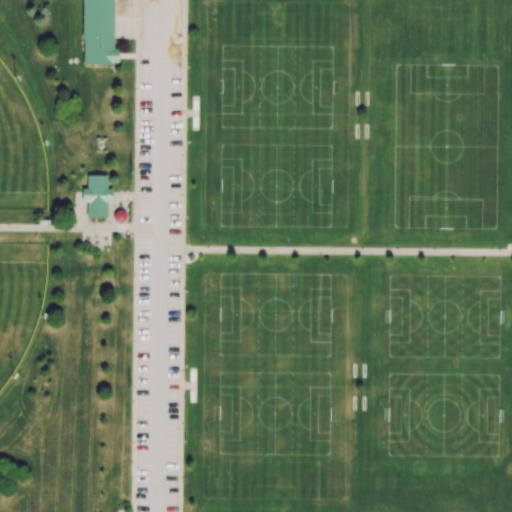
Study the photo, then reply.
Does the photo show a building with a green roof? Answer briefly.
Yes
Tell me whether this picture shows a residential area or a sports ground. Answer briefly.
sports ground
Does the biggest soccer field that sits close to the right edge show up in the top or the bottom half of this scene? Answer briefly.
top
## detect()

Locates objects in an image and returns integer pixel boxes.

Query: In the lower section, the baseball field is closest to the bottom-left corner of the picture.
[0,244,48,390]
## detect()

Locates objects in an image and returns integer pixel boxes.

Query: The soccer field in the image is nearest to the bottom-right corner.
[389,374,500,457]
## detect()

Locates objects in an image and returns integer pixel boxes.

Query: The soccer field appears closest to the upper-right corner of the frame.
[395,65,499,230]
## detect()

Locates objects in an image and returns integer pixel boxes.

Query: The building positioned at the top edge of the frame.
[84,0,120,65]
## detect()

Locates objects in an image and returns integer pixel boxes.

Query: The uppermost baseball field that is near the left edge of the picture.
[0,58,48,209]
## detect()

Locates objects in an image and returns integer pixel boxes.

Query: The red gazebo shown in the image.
[114,210,128,222]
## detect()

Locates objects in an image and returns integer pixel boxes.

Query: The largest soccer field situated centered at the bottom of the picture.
[204,274,348,500]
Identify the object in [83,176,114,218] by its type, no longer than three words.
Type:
building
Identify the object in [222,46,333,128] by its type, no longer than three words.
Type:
soccer field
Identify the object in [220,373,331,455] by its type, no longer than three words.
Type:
soccer field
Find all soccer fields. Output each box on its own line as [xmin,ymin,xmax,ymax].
[222,46,333,128]
[220,373,331,455]
[221,145,332,227]
[206,2,349,228]
[204,274,348,500]
[390,276,502,358]
[220,274,332,356]
[395,65,499,230]
[389,374,500,457]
